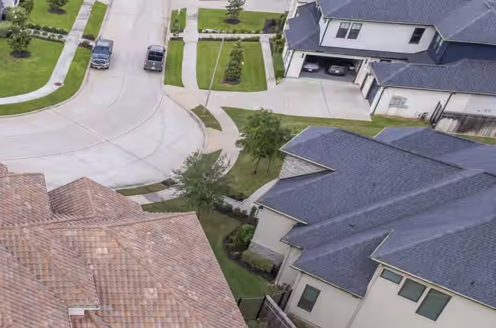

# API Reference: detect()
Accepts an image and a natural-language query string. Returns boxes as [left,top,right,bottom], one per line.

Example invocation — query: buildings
[268,0,496,123]
[249,118,496,328]
[0,161,247,328]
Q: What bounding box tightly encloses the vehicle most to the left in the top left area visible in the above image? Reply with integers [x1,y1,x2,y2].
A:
[93,37,115,68]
